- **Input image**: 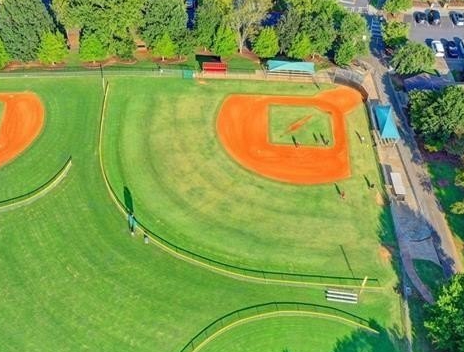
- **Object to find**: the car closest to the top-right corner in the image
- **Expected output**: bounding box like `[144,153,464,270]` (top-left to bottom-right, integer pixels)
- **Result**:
[448,9,464,28]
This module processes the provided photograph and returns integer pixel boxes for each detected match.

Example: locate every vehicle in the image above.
[444,42,460,59]
[430,41,445,58]
[412,12,427,27]
[448,9,464,28]
[424,9,441,27]
[458,41,464,57]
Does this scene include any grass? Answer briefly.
Yes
